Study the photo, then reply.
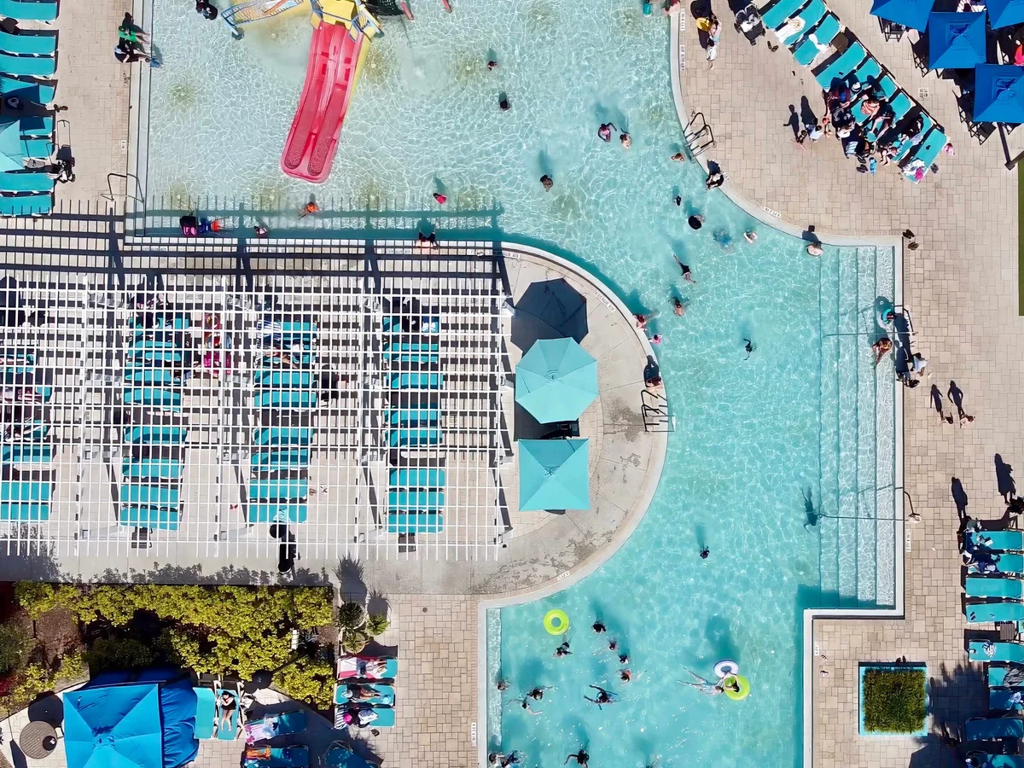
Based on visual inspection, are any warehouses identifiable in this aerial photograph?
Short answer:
No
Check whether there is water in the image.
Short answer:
Yes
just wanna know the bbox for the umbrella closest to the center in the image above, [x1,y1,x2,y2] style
[514,338,601,425]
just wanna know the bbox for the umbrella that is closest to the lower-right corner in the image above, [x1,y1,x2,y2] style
[521,440,589,508]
